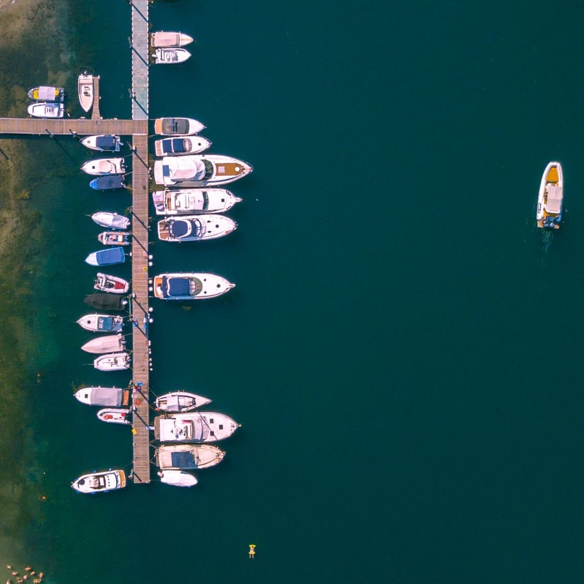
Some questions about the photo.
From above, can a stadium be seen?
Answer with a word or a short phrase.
No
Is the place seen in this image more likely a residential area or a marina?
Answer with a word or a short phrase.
marina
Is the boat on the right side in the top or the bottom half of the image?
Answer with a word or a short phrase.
top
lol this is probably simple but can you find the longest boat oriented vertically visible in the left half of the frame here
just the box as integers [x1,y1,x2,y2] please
[78,71,93,115]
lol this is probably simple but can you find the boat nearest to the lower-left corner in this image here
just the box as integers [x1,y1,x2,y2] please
[69,465,130,494]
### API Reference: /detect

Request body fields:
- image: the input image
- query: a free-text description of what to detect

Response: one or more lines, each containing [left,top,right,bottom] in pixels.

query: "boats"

[149,188,243,215]
[536,162,564,228]
[152,117,207,136]
[97,408,129,423]
[99,230,131,245]
[79,157,127,176]
[152,48,192,64]
[27,86,65,101]
[150,390,212,412]
[77,135,123,152]
[151,444,227,469]
[149,153,254,189]
[152,469,199,486]
[151,271,239,301]
[76,313,129,332]
[150,30,193,47]
[153,409,243,442]
[78,71,93,115]
[85,247,126,266]
[89,173,130,191]
[80,333,131,354]
[84,293,127,309]
[91,274,130,292]
[150,215,240,243]
[85,213,132,231]
[69,465,130,494]
[27,102,67,118]
[150,135,214,155]
[84,351,132,370]
[72,384,132,405]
